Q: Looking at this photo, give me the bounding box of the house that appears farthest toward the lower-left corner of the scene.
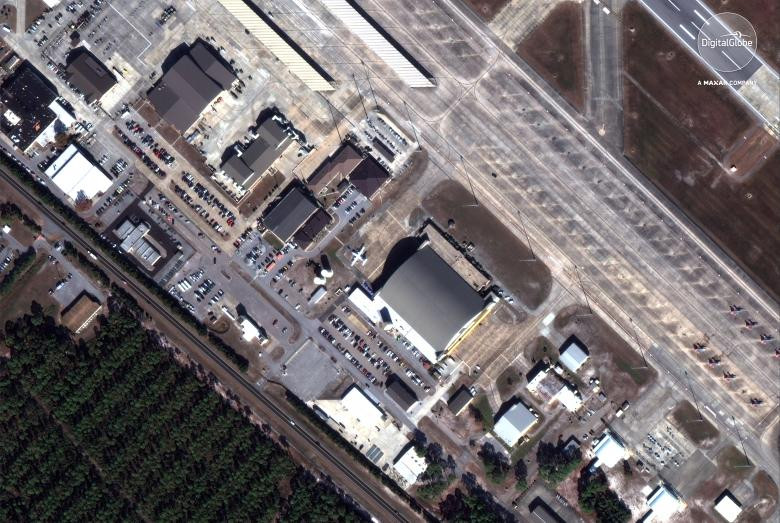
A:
[62,295,102,333]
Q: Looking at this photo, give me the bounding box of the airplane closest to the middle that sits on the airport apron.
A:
[350,245,366,266]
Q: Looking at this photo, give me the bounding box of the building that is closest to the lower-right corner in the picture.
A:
[715,496,743,522]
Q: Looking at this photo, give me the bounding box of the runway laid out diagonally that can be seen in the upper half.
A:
[635,0,780,139]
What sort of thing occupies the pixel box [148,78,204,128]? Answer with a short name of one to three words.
hangar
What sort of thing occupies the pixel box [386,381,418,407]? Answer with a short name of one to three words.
shed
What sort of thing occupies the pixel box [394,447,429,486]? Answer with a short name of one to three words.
building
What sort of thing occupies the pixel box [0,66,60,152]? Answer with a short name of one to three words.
building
